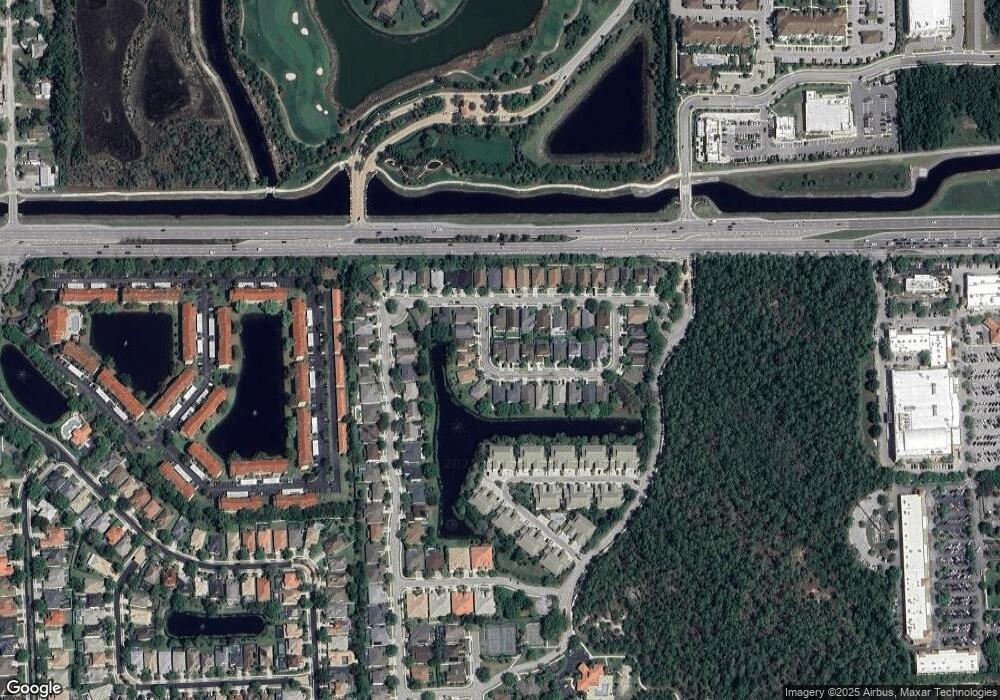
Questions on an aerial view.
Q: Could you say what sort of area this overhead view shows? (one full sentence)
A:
What you see here is a residential area.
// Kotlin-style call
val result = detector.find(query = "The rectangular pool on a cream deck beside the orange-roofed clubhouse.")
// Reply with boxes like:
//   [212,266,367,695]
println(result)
[63,309,83,341]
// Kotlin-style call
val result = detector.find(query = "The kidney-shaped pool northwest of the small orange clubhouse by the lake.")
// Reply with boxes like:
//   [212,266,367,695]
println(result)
[62,416,82,440]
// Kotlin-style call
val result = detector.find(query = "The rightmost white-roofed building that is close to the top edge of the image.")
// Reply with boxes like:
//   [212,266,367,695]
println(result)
[908,0,951,38]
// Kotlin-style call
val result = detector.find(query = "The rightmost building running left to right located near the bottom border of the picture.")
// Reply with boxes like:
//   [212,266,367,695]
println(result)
[917,649,978,673]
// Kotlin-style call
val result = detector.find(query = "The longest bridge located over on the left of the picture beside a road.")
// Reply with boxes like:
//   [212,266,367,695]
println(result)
[351,172,366,223]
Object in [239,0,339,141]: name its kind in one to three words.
golf course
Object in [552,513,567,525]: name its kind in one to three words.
swimming pool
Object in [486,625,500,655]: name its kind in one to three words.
tennis court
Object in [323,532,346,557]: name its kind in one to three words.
house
